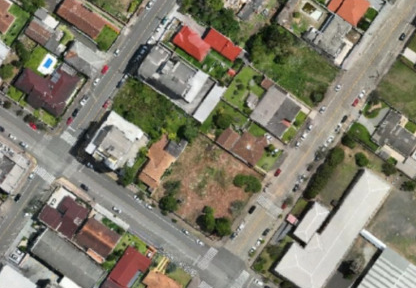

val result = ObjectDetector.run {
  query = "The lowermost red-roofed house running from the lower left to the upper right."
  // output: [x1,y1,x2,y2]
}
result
[103,244,150,288]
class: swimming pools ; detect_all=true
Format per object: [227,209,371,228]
[42,57,54,69]
[301,1,317,13]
